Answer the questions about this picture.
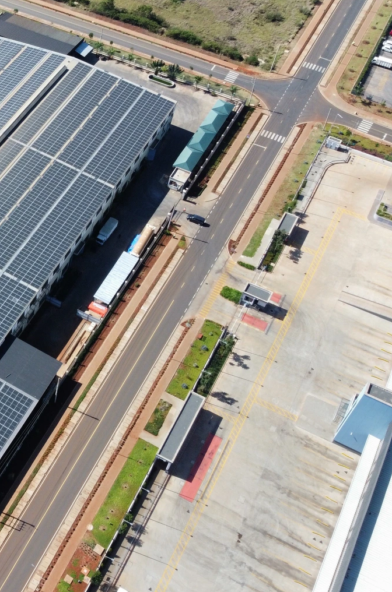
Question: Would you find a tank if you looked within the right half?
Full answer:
No, looking within the right half, there is no tank.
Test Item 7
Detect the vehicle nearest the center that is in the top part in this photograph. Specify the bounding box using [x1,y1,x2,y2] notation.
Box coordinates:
[183,211,210,227]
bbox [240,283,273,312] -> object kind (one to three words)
building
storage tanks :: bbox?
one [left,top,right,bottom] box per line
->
[129,224,157,263]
